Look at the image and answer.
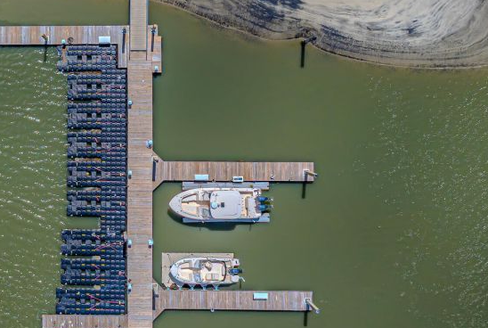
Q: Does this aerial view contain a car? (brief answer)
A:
No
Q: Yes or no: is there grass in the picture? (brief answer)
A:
No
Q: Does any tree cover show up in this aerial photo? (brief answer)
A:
No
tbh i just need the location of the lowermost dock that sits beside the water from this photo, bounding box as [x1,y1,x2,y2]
[42,314,128,328]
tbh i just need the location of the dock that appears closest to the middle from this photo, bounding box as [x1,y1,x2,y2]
[160,161,315,182]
